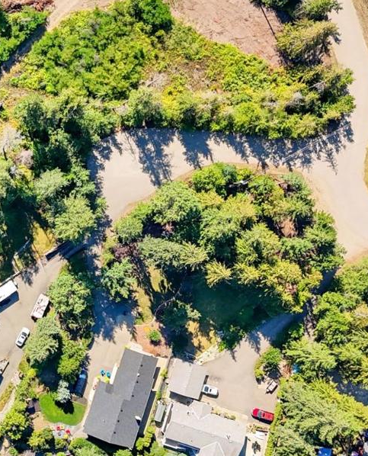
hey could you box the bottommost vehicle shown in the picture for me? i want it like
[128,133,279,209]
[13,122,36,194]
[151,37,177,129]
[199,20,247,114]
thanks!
[249,408,273,421]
